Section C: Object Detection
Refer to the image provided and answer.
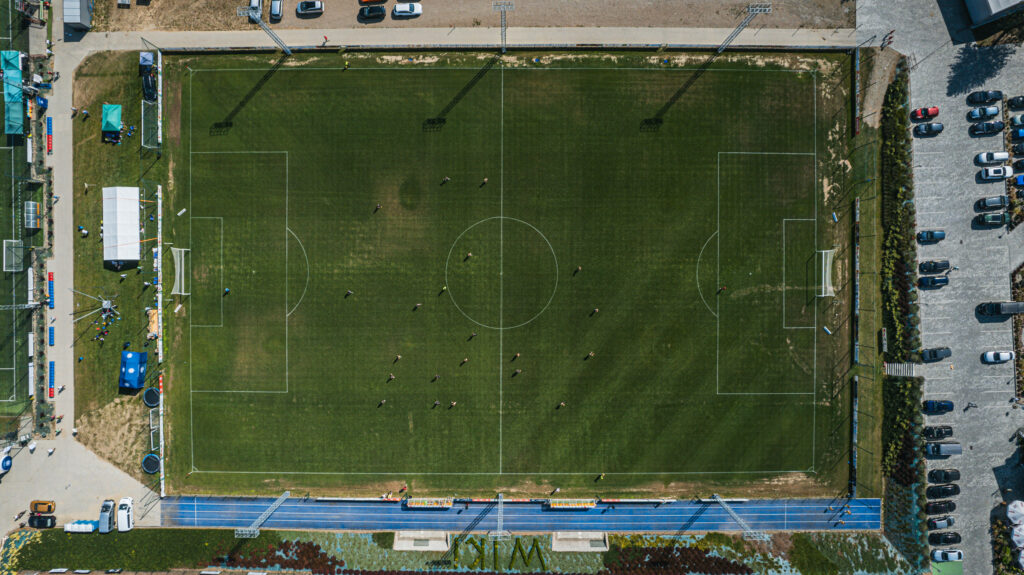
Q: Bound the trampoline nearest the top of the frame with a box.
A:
[139,388,160,407]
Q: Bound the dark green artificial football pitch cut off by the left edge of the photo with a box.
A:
[0,0,33,441]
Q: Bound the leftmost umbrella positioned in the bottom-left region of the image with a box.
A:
[1,457,19,470]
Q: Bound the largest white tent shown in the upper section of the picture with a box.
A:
[103,186,159,262]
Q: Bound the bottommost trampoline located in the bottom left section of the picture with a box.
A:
[142,454,161,475]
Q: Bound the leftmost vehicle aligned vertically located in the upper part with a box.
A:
[142,75,158,104]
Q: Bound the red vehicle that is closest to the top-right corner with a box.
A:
[912,106,939,120]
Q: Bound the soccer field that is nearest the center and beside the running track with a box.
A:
[160,47,857,498]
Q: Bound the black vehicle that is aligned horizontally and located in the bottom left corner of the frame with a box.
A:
[27,514,58,529]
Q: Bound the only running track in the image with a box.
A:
[161,497,882,531]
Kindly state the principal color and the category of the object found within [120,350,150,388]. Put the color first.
blue gazebo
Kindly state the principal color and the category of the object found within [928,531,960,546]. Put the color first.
black car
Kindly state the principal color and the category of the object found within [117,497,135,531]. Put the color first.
white vehicle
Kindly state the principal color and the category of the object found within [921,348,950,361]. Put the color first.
black vehicle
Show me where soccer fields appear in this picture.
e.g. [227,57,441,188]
[0,0,33,441]
[160,47,857,498]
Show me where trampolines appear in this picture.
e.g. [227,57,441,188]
[142,454,161,475]
[139,388,160,407]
